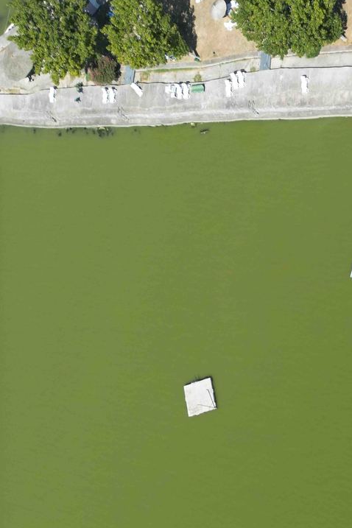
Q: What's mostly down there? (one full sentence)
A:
For the most part, this view shows water.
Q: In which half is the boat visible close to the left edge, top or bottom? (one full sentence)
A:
The boat visible close to the left edge sits in the top half of the picture.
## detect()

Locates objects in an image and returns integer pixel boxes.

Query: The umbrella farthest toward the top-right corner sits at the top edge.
[212,0,231,23]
